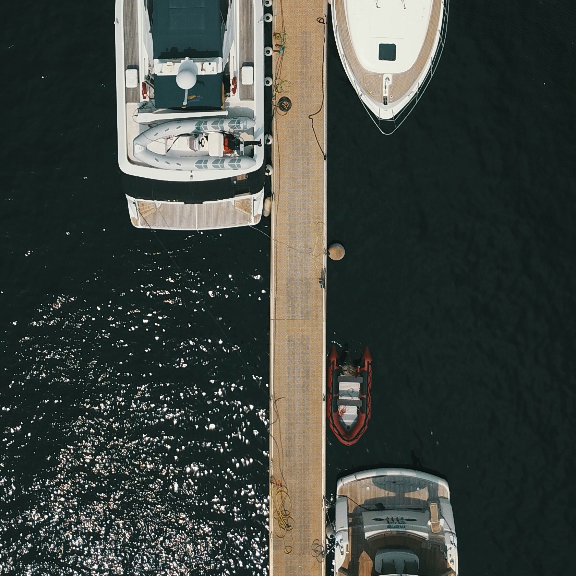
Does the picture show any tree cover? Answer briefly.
No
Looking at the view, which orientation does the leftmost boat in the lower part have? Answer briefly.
vertically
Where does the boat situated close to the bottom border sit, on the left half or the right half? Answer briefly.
right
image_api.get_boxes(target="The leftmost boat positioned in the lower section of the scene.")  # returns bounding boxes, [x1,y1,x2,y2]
[327,345,374,446]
